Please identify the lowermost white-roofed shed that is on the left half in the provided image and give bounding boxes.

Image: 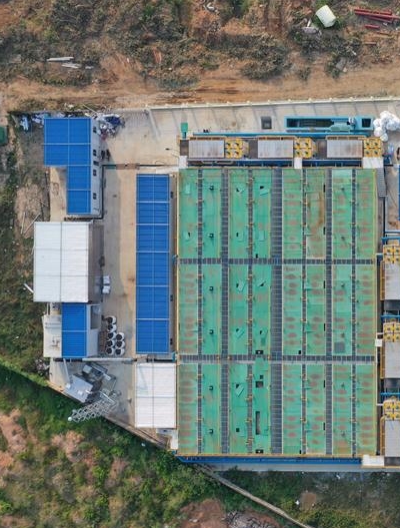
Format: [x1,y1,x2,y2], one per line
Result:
[135,363,179,429]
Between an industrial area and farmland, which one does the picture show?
industrial area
